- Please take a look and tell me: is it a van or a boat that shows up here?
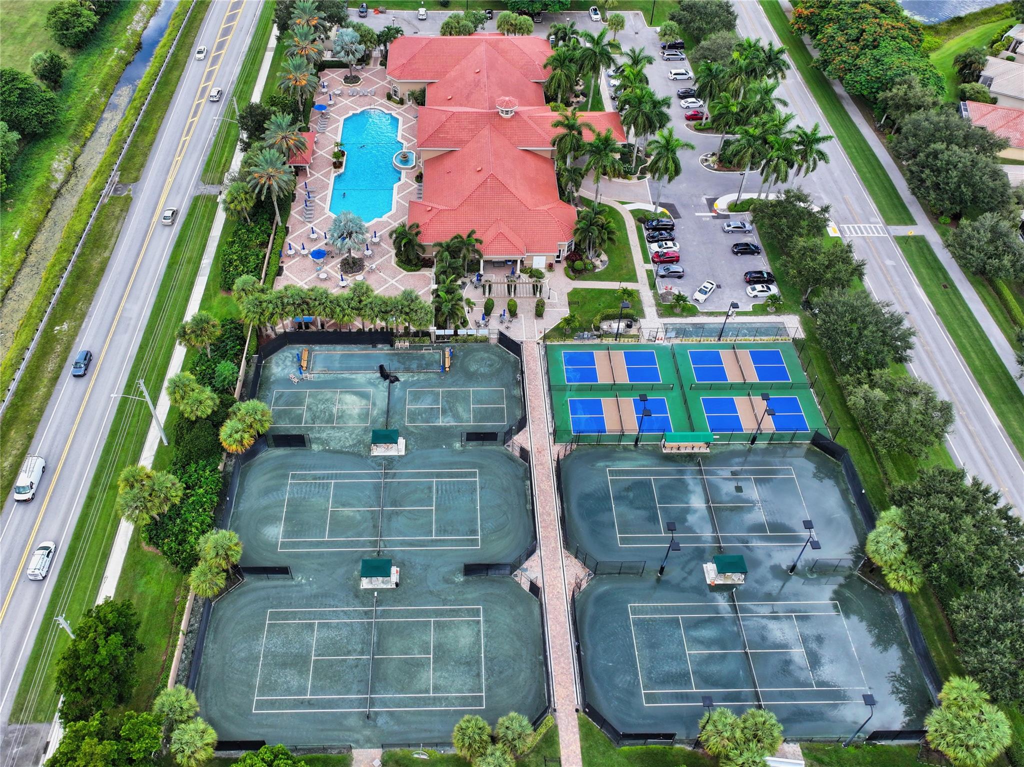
van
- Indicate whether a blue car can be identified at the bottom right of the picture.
No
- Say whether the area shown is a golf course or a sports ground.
sports ground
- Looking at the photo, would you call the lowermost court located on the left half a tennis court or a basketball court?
tennis court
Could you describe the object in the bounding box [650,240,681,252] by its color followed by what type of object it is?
white vehicle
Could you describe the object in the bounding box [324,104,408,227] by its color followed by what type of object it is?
blue swimming pool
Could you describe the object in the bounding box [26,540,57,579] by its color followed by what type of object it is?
white van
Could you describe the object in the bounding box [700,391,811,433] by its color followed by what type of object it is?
blue sports court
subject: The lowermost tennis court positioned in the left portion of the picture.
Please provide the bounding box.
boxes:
[188,576,550,750]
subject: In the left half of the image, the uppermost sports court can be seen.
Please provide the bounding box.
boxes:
[245,343,526,449]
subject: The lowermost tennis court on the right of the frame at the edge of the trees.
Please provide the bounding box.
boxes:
[576,571,928,741]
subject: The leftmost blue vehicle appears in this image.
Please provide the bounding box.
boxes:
[72,348,94,376]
